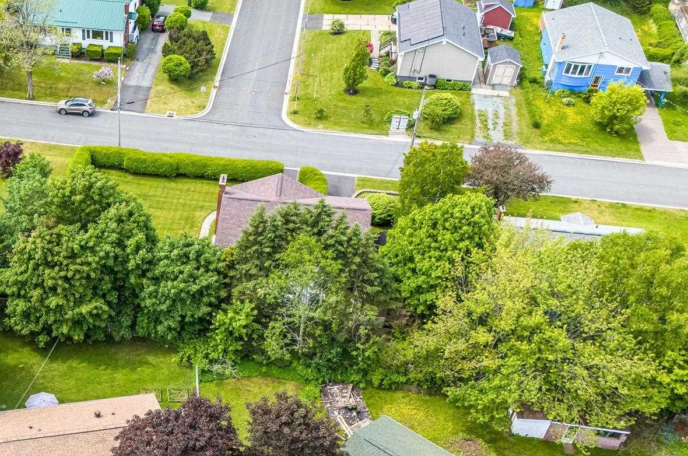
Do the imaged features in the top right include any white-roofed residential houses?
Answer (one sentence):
Yes, a white-roofed residential house shows up in the top right.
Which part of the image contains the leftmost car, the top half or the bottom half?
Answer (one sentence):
You can find the leftmost car in the top half.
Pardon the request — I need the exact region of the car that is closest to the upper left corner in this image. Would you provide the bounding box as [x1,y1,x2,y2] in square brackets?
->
[56,100,97,121]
